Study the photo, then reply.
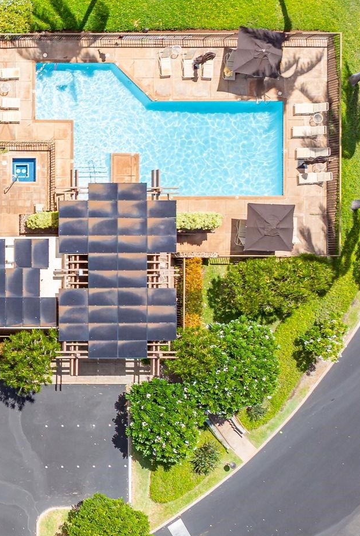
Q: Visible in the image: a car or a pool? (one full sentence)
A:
I can see a pool in this picture.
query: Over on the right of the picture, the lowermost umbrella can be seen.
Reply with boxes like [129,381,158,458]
[242,204,292,251]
